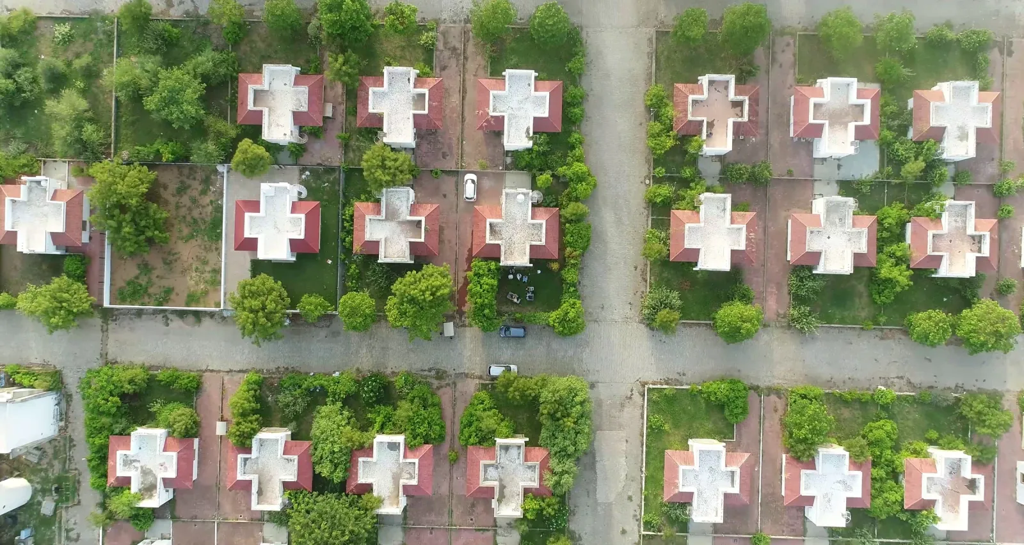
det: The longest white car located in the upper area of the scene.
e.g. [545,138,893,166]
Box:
[463,174,477,201]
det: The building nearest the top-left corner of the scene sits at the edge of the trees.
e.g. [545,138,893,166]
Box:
[0,172,92,253]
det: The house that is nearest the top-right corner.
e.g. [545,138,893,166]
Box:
[908,79,1000,158]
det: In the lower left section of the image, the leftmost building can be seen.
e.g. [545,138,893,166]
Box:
[0,383,57,458]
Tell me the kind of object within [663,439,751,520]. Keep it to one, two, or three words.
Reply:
house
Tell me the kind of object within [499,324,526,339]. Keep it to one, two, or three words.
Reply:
car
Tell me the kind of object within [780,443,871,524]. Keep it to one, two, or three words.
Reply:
house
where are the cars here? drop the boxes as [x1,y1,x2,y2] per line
[463,174,477,201]
[499,324,526,339]
[487,363,517,376]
